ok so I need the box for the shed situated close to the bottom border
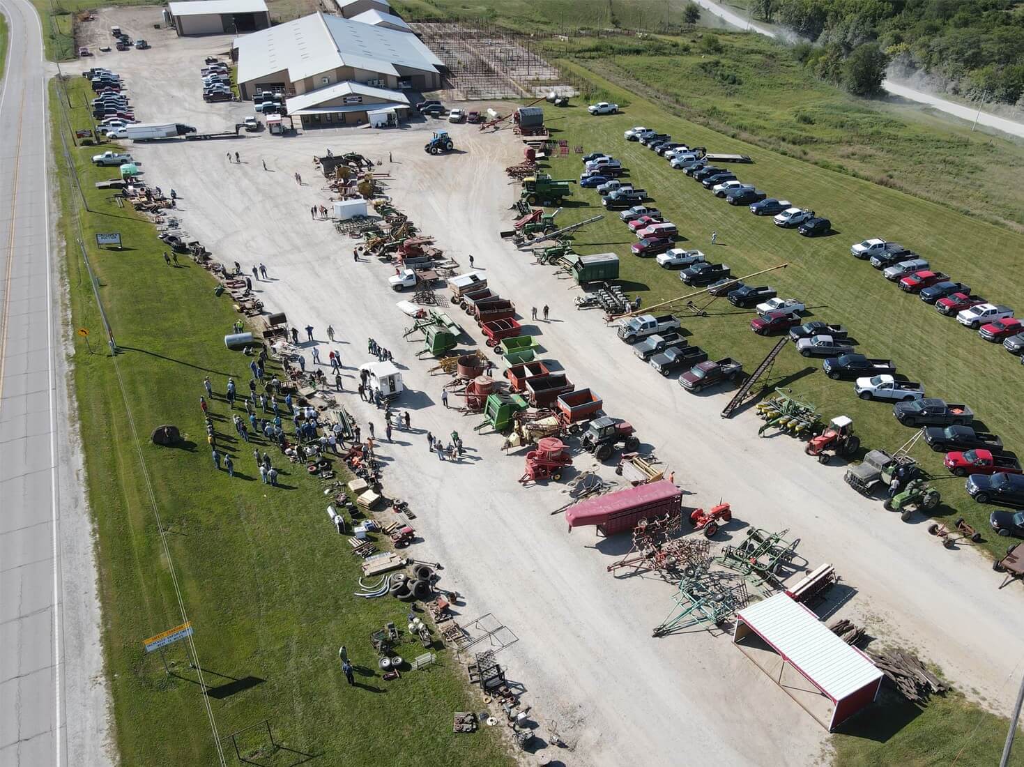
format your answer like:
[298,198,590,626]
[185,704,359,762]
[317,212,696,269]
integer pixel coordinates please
[729,589,886,733]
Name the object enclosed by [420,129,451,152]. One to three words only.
work vehicle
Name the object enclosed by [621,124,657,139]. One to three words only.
vehicle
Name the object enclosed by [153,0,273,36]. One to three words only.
shed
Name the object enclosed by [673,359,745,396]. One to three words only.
truck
